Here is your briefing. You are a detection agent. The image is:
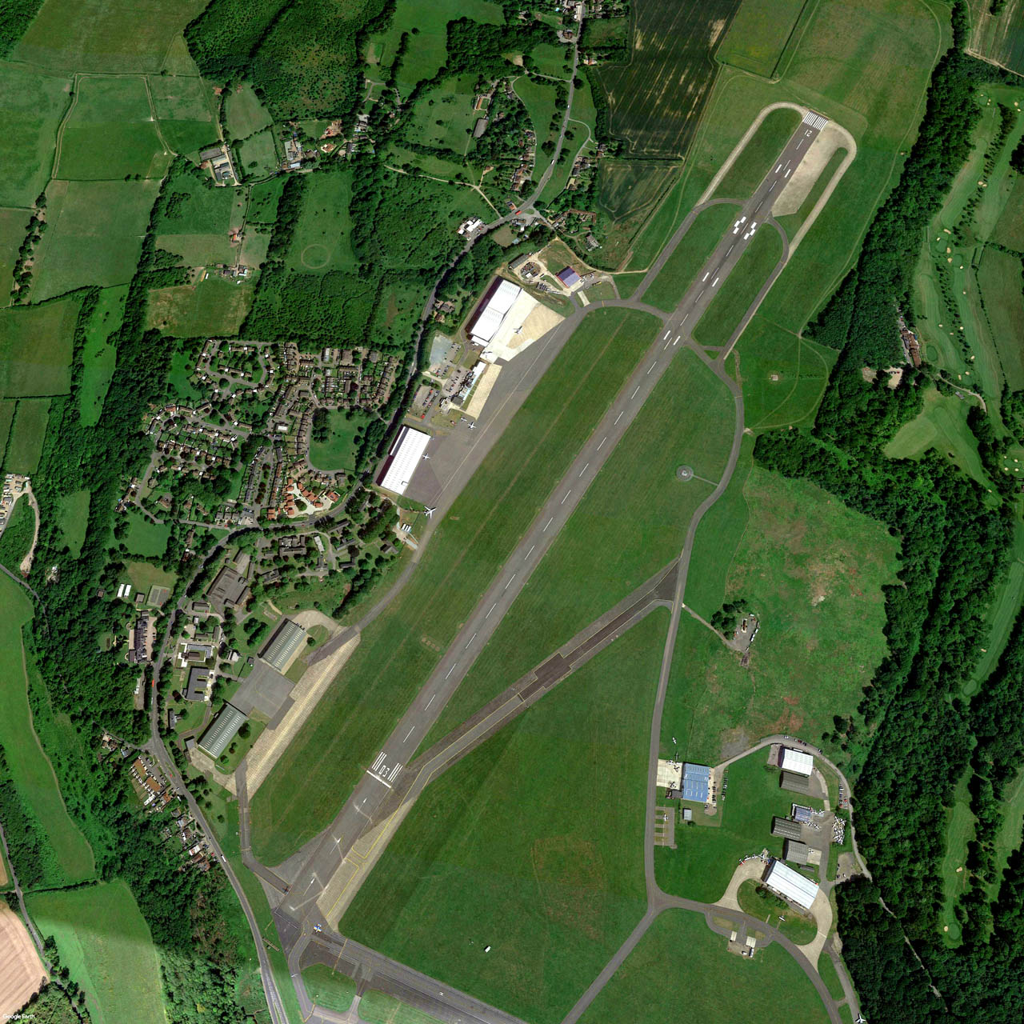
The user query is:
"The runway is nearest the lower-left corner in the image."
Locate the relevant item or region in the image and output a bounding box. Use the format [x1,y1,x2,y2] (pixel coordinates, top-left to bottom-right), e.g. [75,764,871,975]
[272,904,535,1024]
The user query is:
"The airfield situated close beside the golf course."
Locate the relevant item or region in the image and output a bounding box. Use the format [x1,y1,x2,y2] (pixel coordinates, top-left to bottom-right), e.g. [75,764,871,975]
[190,71,912,1024]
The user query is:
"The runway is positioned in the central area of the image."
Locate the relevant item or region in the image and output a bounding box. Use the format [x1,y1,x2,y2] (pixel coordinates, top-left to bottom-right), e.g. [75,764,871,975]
[275,109,830,928]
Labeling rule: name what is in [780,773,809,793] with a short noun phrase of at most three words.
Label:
hangar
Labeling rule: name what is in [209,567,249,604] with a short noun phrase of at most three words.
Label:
building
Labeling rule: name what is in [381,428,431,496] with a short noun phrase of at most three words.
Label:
hangar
